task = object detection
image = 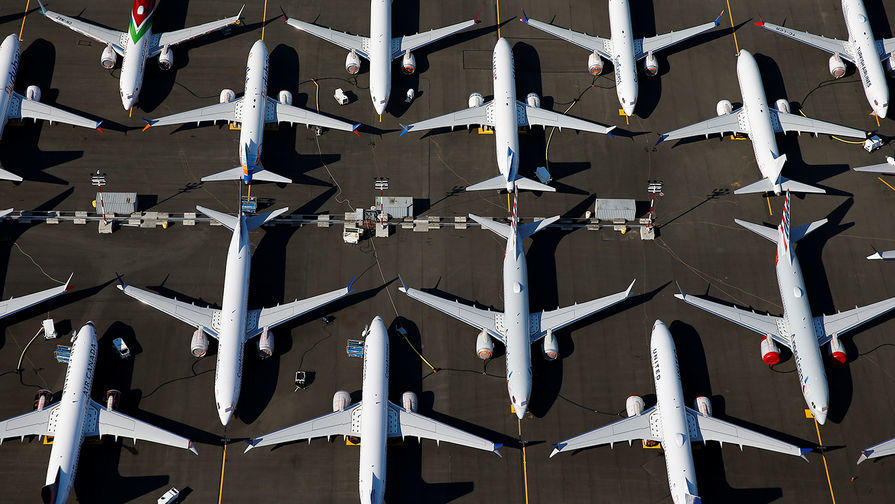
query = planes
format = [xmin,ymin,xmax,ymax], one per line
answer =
[399,186,636,420]
[399,39,617,194]
[0,322,197,504]
[521,0,723,115]
[657,51,875,196]
[39,0,244,110]
[0,273,73,322]
[857,438,895,466]
[551,321,811,504]
[677,190,895,424]
[758,0,895,118]
[0,38,101,147]
[116,178,356,426]
[243,316,505,504]
[279,0,482,115]
[142,40,362,184]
